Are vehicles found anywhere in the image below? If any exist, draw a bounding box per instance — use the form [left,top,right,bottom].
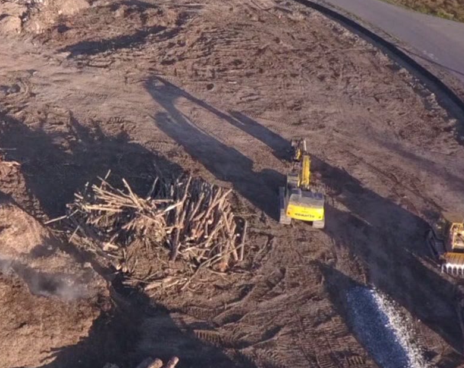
[434,210,464,280]
[279,123,331,227]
